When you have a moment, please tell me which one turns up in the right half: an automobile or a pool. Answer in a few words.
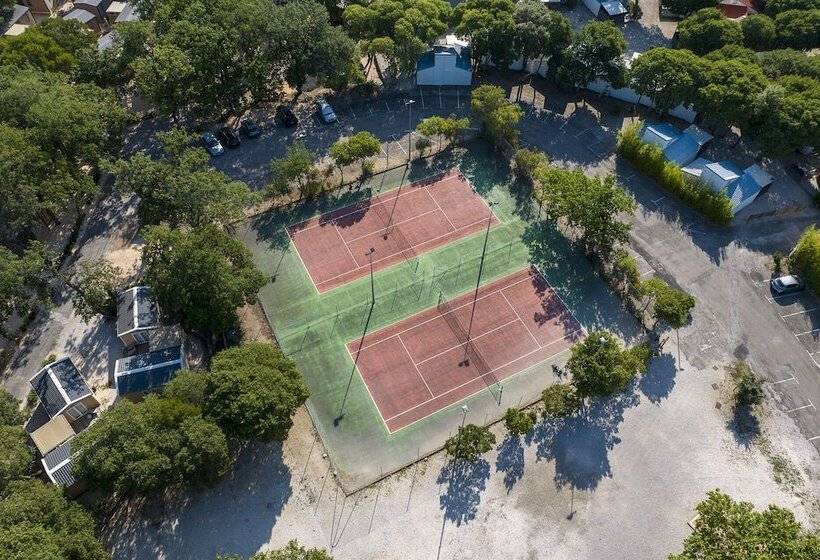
automobile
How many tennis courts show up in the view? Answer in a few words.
two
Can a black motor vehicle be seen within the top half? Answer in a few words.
Yes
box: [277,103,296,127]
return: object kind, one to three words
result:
car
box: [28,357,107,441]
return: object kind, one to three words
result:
building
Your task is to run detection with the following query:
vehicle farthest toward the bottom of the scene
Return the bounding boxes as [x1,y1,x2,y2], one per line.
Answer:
[769,272,806,296]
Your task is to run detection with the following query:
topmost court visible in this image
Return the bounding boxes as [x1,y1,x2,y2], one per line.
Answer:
[230,138,558,340]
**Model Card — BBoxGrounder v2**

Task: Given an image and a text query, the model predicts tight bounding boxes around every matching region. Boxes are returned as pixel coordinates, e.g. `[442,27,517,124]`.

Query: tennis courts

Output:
[279,226,656,494]
[230,138,558,340]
